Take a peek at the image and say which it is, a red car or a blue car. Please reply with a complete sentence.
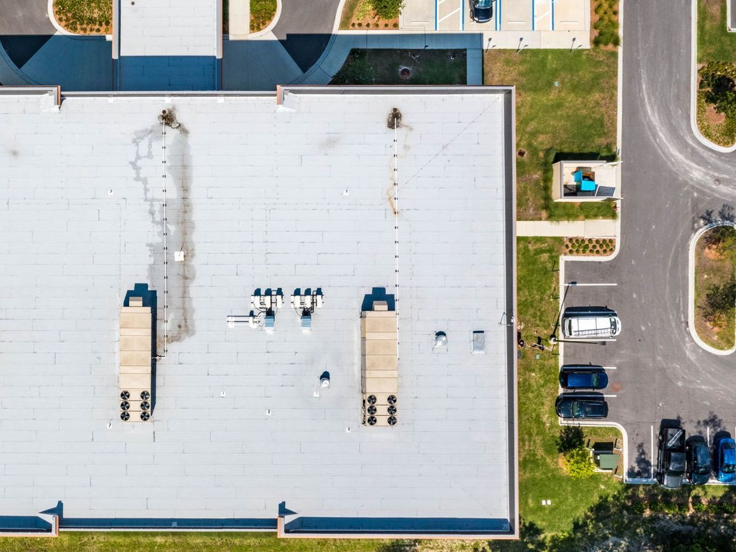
Looking from above, you can make out a blue car.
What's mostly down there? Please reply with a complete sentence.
What you mostly see from above here is buildings.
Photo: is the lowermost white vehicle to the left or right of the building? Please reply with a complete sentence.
In the image, the lowermost white vehicle sits on the right side of the building.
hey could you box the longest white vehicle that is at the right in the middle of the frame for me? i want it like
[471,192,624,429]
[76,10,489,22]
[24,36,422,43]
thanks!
[562,315,619,340]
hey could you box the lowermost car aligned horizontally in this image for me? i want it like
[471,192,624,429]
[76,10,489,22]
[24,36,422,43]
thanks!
[556,396,610,420]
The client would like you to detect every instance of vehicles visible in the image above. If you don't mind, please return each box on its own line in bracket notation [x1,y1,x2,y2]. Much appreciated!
[712,440,736,484]
[561,367,607,390]
[658,429,689,488]
[562,315,619,340]
[556,396,610,420]
[686,442,713,486]
[468,0,491,19]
